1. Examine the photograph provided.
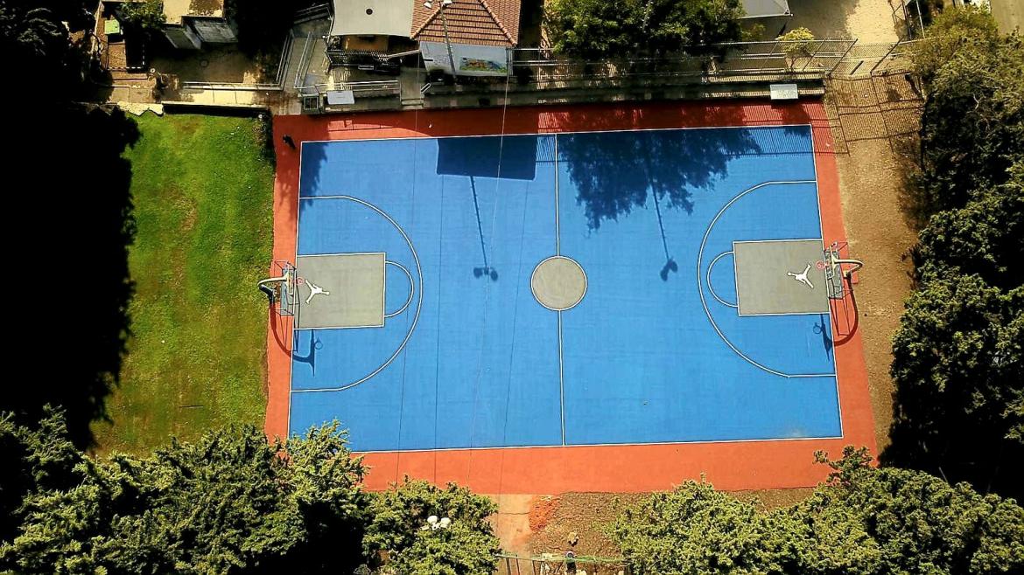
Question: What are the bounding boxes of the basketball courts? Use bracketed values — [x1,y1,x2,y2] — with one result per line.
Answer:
[263,99,877,499]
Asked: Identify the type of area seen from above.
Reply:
sports ground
